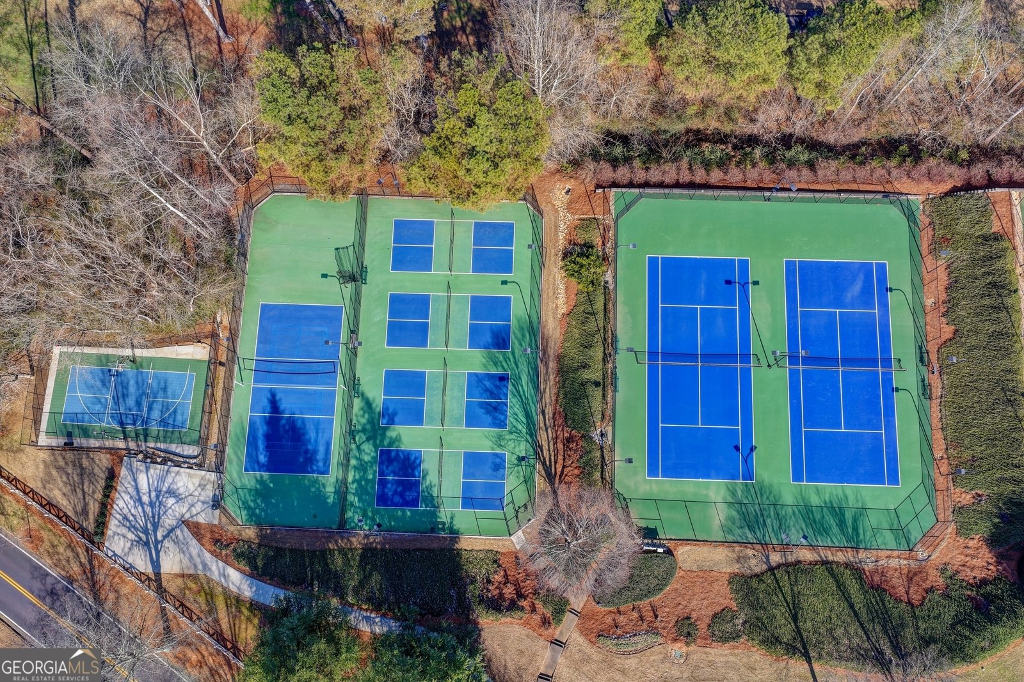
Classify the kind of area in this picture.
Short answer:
sports ground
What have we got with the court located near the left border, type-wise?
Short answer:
basketball court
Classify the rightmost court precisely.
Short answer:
tennis court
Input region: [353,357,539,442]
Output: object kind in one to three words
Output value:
sports court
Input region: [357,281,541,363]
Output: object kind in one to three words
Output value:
sports court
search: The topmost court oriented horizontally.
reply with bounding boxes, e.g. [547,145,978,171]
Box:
[362,198,543,286]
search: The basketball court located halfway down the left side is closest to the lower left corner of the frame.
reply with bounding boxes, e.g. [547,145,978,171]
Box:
[38,345,210,456]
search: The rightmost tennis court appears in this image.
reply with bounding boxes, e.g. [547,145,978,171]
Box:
[765,193,936,550]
